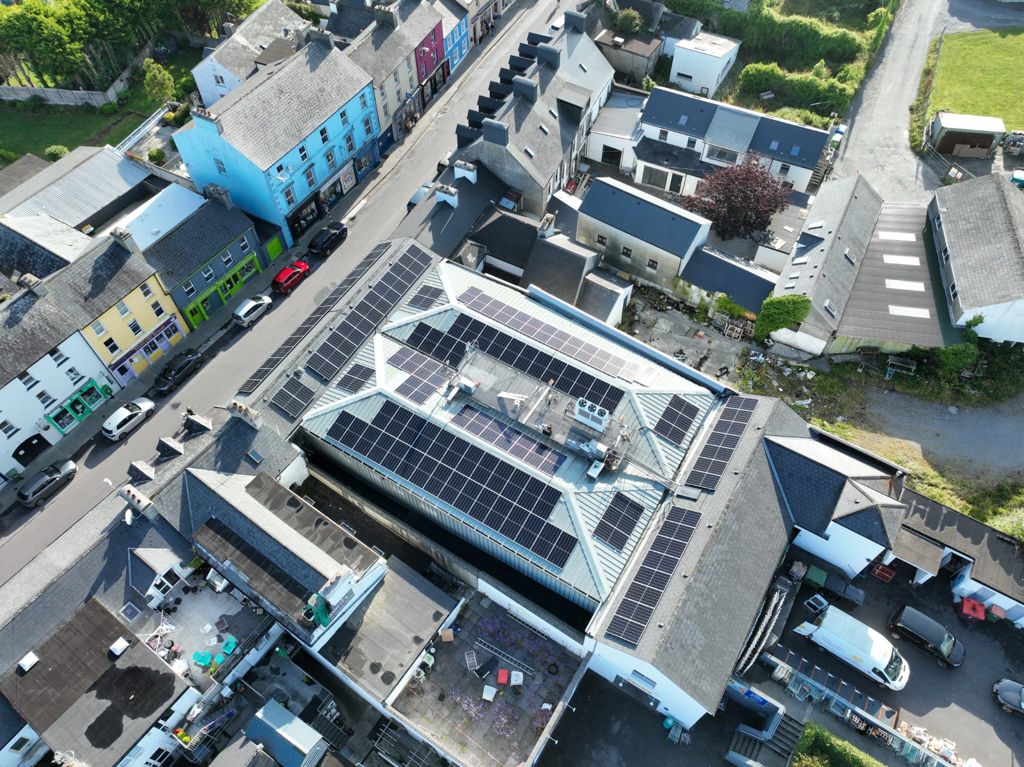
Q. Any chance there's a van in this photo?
Yes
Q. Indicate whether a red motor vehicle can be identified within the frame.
Yes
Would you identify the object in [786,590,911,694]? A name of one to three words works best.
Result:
van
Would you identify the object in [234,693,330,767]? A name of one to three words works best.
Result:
shed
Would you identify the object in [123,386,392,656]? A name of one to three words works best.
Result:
house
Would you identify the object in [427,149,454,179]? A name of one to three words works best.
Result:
car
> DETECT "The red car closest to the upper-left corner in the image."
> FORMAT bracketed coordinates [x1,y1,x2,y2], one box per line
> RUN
[268,262,312,299]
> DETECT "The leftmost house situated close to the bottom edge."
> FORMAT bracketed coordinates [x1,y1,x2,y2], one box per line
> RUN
[0,488,214,767]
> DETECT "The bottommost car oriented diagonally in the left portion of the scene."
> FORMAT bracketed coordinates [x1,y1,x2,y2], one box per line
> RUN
[10,458,81,515]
